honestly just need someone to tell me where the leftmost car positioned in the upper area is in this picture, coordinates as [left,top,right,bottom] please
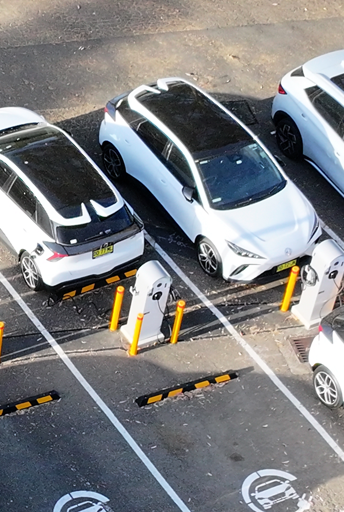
[0,107,143,290]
